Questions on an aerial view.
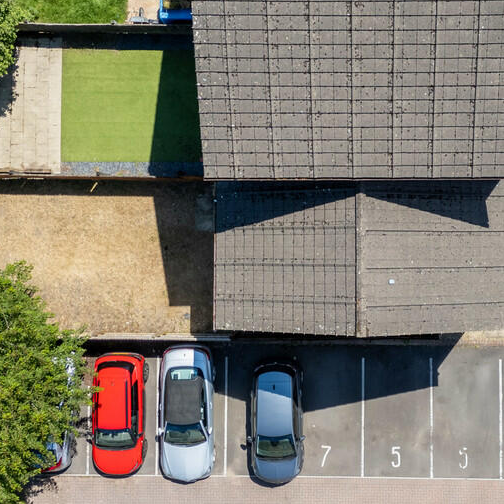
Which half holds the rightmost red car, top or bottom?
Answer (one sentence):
The rightmost red car sits in the bottom half of the picture.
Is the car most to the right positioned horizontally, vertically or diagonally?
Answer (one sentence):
The car most to the right is laid out vertically.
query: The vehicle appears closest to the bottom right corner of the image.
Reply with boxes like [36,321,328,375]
[246,359,309,486]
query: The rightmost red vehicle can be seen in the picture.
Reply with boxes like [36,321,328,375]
[87,351,149,477]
